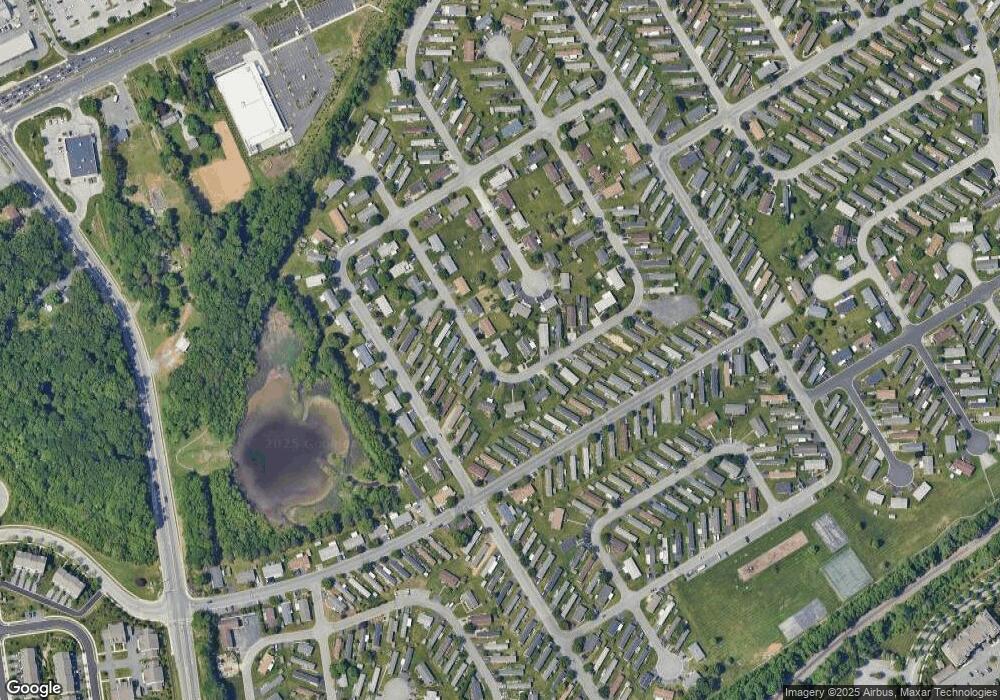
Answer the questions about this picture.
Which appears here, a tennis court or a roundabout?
tennis court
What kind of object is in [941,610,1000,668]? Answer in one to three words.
building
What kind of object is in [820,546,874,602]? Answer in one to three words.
tennis court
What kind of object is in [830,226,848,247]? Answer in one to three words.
house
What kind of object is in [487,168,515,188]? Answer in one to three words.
house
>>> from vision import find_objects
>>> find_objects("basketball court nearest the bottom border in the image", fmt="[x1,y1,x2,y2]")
[778,598,827,641]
